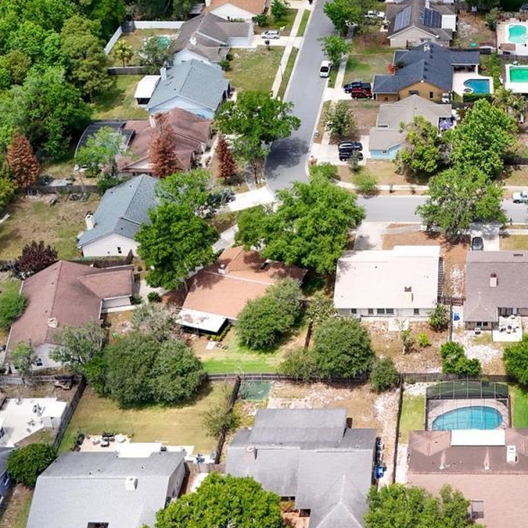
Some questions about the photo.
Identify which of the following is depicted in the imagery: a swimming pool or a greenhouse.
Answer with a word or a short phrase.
swimming pool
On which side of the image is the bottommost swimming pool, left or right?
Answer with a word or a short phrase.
right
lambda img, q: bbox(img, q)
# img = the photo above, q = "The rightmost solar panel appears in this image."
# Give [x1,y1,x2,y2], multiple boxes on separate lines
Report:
[422,8,440,26]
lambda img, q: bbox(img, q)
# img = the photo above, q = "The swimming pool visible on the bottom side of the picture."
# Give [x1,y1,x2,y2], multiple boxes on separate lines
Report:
[427,399,510,433]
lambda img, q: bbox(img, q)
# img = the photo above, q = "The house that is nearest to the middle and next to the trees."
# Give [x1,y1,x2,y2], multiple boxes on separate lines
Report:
[175,248,297,344]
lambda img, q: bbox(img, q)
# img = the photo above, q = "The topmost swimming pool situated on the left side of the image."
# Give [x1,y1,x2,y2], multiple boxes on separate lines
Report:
[139,33,175,61]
